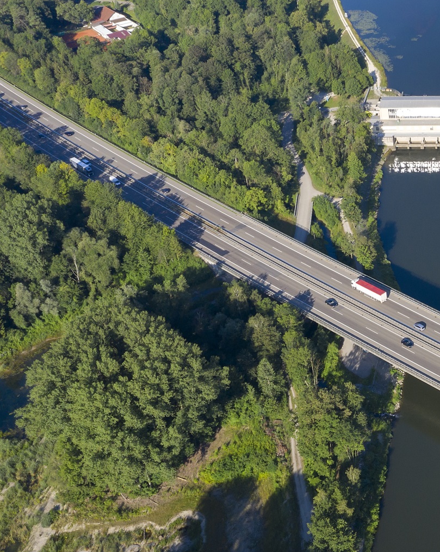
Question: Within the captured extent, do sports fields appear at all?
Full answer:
No, there isn't any sports field down there.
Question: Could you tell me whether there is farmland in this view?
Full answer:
No, farmland can't be seen anywhere here.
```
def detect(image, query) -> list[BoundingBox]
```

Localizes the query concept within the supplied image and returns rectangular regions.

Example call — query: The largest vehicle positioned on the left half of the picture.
[70,157,93,176]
